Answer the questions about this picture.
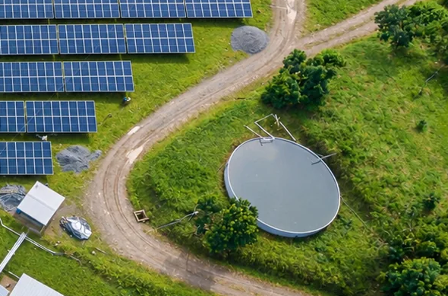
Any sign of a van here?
No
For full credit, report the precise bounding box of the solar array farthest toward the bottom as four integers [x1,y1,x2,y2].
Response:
[0,143,52,175]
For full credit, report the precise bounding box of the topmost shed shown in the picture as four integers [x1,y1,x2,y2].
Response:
[15,182,65,240]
